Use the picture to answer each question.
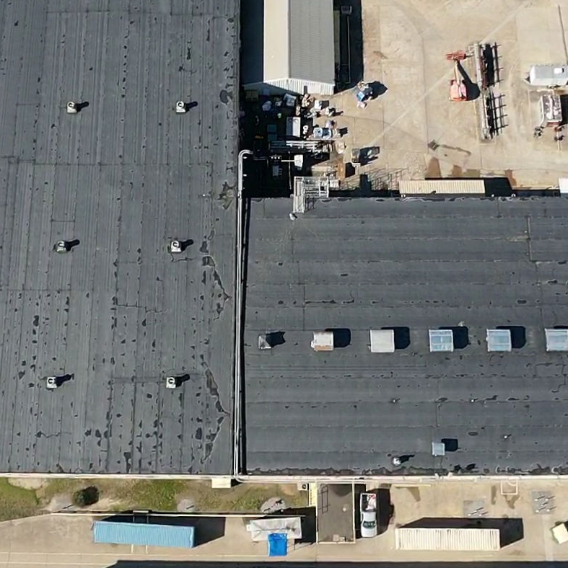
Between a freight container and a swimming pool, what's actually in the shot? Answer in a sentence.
Of the two, only a freight container appears.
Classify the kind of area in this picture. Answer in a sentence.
This looks like an industrial area.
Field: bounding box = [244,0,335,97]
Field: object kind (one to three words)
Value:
shed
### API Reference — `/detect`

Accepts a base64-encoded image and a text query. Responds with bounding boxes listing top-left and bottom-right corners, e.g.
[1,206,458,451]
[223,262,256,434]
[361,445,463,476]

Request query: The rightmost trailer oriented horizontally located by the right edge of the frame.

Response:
[516,67,568,89]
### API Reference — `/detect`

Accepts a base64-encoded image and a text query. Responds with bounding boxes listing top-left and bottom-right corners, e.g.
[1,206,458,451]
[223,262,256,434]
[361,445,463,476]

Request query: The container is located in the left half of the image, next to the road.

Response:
[93,521,198,548]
